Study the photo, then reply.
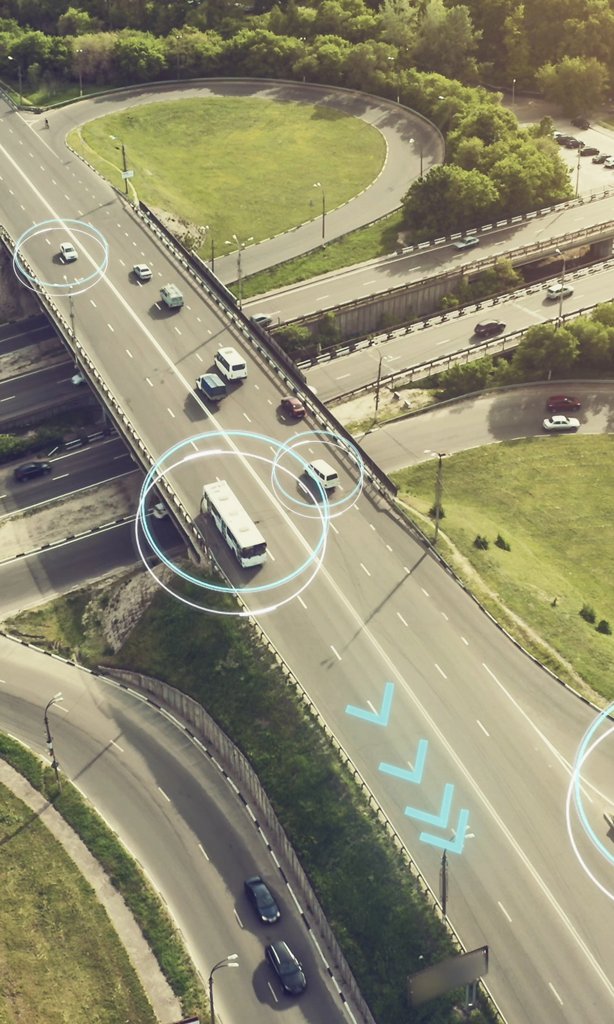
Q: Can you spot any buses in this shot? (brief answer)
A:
Yes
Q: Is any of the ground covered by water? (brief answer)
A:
No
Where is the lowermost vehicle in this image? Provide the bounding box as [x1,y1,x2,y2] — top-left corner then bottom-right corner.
[267,940,304,995]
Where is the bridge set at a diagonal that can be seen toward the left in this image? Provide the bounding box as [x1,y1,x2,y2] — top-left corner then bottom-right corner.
[0,189,435,599]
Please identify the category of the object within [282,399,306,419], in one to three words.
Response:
car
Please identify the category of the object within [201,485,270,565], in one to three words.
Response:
bus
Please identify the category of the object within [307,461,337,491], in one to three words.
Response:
van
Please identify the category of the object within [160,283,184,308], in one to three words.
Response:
vehicle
